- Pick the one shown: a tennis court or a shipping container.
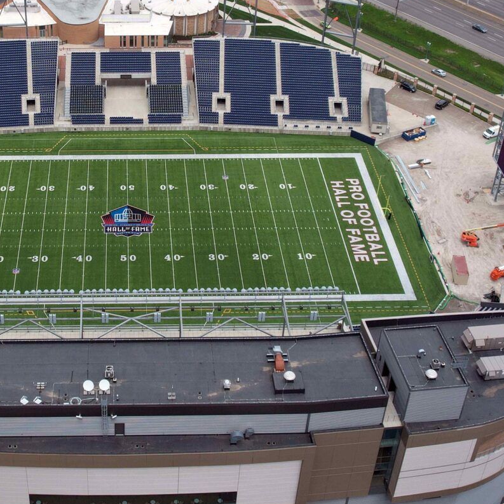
shipping container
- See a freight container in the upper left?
No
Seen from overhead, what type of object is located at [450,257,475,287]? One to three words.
shipping container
